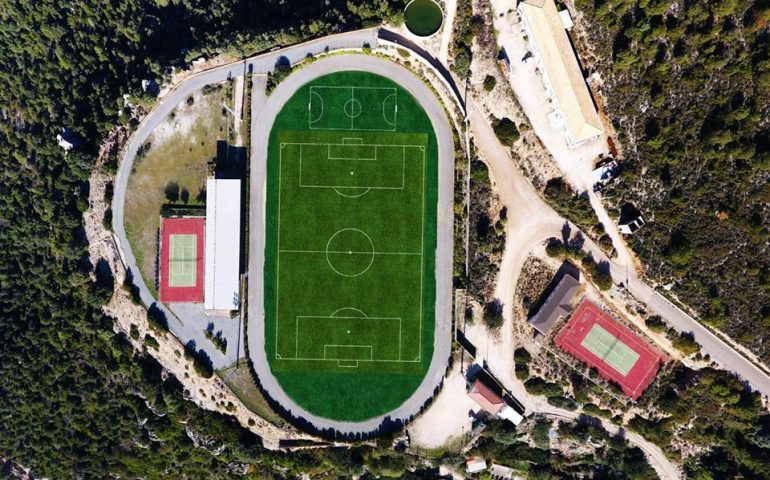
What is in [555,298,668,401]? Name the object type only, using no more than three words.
tennis court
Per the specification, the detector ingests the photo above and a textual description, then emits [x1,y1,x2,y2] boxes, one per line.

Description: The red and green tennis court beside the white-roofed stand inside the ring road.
[160,218,205,302]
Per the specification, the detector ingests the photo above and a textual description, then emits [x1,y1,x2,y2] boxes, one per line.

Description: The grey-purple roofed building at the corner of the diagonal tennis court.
[527,274,581,347]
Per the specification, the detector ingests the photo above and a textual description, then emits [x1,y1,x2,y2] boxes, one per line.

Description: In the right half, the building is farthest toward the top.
[517,0,604,147]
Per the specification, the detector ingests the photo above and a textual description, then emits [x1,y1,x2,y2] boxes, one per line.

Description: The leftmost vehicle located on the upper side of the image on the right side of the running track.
[496,58,511,80]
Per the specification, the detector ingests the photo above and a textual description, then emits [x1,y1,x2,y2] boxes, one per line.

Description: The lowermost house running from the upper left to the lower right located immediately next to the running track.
[467,378,523,427]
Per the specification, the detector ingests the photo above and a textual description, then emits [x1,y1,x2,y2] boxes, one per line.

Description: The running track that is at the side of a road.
[247,53,454,442]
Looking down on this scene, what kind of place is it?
sports ground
